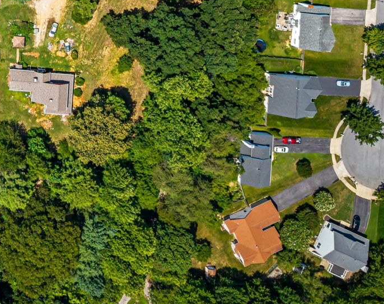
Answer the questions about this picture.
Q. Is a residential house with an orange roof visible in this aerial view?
Yes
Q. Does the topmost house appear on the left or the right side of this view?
right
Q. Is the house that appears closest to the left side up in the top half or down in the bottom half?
top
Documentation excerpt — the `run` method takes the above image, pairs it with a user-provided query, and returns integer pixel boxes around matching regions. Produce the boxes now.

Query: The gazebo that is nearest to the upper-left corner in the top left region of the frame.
[11,35,25,48]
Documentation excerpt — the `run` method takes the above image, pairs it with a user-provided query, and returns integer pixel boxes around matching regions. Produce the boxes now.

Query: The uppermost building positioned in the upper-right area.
[291,0,336,50]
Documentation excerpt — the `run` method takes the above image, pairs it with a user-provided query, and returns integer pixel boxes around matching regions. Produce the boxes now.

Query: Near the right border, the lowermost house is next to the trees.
[310,218,372,273]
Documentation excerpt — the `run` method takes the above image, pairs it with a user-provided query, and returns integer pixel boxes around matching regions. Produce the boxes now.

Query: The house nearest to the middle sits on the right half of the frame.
[236,133,272,188]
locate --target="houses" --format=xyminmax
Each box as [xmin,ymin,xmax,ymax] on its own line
[291,0,336,50]
[310,218,372,273]
[236,133,272,188]
[261,72,321,118]
[8,68,75,116]
[221,197,284,267]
